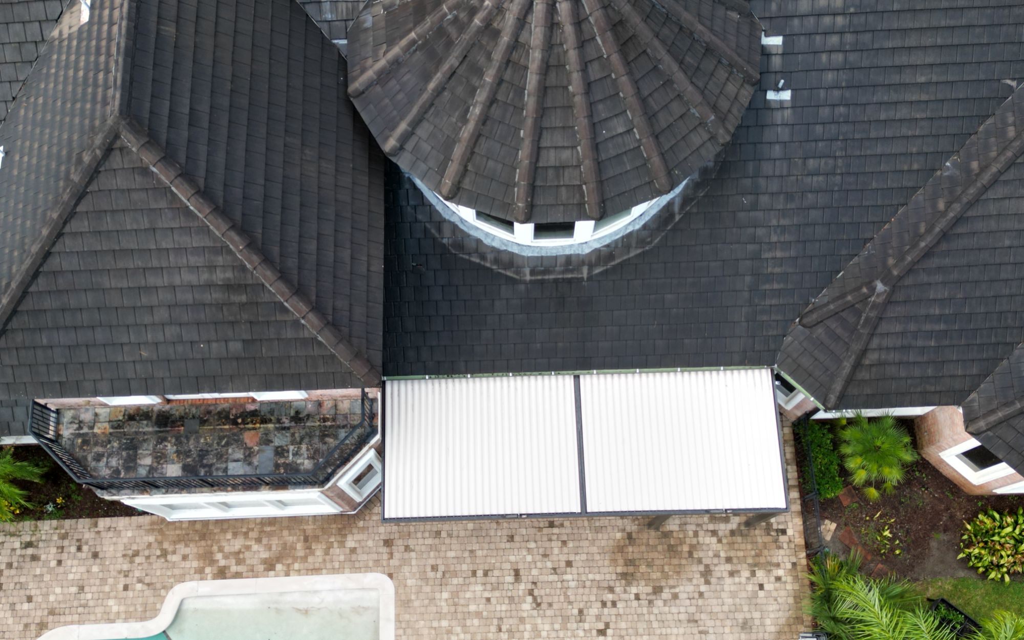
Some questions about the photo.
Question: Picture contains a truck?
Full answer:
No, this view has no truck in it.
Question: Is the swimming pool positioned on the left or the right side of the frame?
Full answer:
The swimming pool sits on the left side.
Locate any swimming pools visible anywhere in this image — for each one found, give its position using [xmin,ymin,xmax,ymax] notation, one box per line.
[38,573,395,640]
